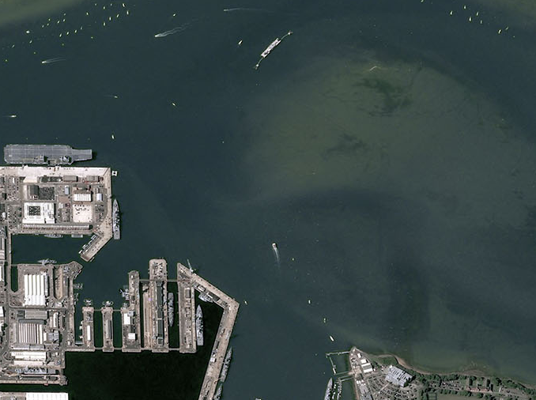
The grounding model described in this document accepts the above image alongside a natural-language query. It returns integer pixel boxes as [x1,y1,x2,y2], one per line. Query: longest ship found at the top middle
[260,31,289,59]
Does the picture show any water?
Yes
